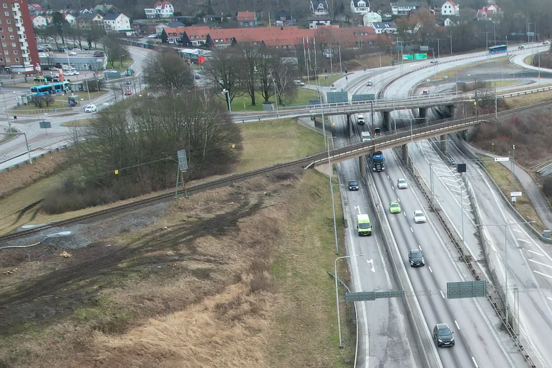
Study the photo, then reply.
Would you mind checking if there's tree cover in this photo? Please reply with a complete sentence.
Yes, the picture does contain tree cover.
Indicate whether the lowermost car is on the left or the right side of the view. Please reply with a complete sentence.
The lowermost car sits on the right side.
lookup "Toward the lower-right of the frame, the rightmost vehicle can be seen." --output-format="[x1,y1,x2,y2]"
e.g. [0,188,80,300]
[430,319,454,345]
